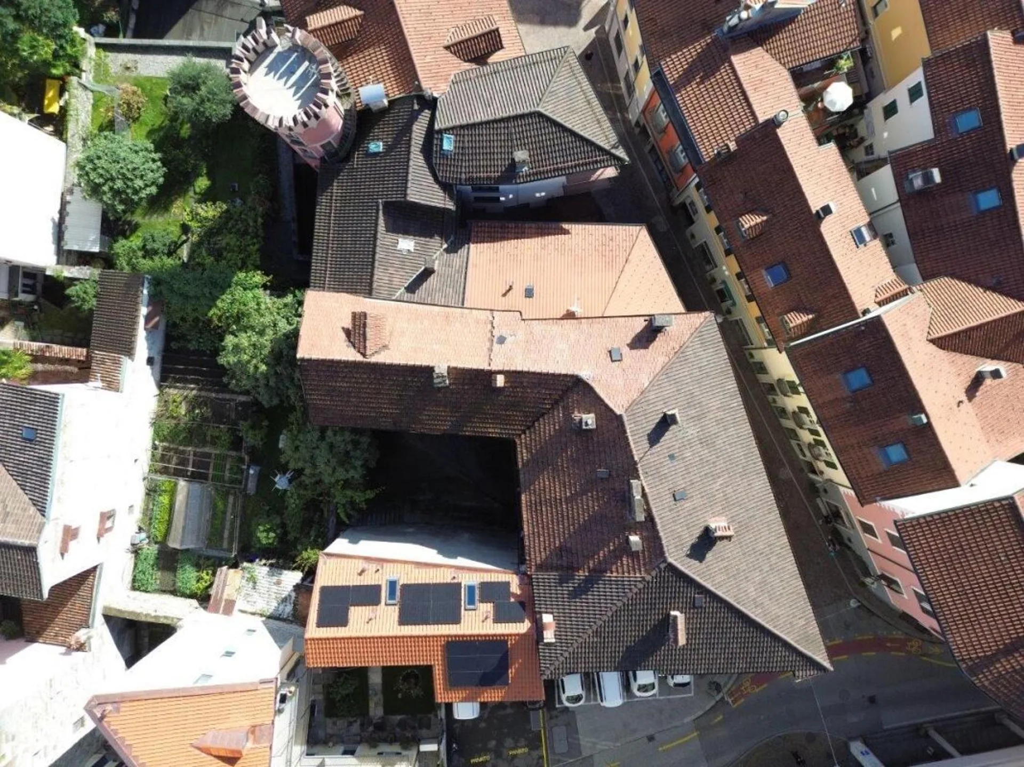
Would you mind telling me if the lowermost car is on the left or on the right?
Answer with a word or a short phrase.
left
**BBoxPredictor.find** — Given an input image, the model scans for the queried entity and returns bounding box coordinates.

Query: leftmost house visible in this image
[0,109,64,265]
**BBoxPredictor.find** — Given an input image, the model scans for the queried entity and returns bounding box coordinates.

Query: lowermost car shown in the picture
[76,740,120,767]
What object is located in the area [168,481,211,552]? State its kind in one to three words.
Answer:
greenhouse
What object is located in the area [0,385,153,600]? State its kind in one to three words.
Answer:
house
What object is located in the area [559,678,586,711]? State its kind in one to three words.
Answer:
car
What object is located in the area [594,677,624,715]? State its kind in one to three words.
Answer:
van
